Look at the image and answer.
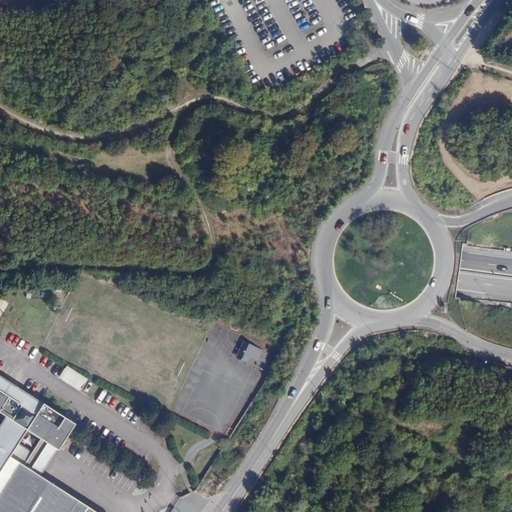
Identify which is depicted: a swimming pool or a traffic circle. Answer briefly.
traffic circle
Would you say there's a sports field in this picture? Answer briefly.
Yes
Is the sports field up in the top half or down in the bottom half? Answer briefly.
bottom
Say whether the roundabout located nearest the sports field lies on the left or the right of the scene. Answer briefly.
right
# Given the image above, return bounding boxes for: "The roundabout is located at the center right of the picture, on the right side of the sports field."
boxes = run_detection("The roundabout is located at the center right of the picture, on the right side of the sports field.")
[314,189,454,329]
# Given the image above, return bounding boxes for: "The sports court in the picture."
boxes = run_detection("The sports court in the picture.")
[173,322,268,431]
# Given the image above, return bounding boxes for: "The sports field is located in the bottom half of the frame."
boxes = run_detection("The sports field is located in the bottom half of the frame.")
[45,272,206,406]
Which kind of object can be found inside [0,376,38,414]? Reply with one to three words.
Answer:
building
